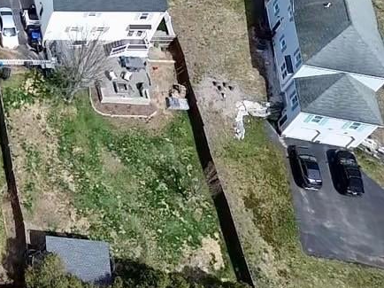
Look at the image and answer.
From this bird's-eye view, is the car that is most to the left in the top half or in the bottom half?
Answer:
top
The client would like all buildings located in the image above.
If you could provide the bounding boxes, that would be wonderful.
[262,0,384,140]
[35,0,175,42]
[46,238,120,288]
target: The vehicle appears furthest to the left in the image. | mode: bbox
[0,8,21,50]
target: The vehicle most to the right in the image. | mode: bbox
[326,143,369,203]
